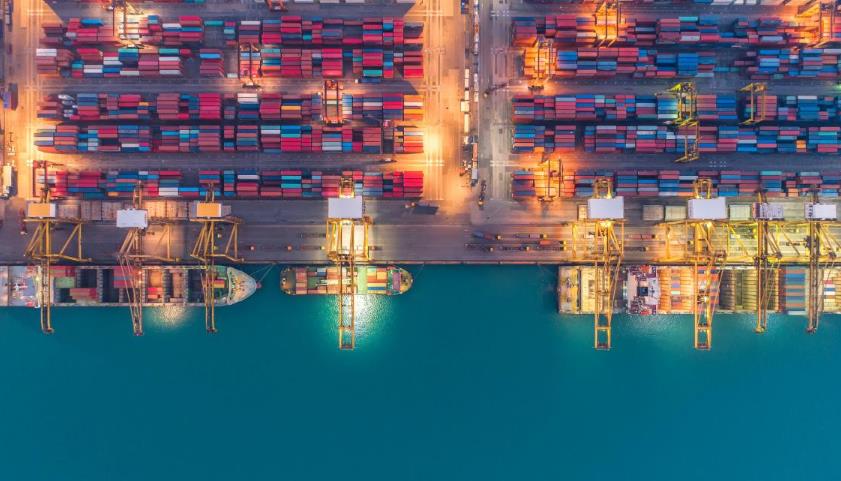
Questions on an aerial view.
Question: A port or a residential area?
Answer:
port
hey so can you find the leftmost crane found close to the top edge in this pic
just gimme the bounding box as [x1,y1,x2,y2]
[113,1,147,49]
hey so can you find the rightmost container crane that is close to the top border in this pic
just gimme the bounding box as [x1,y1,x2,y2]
[793,1,834,49]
